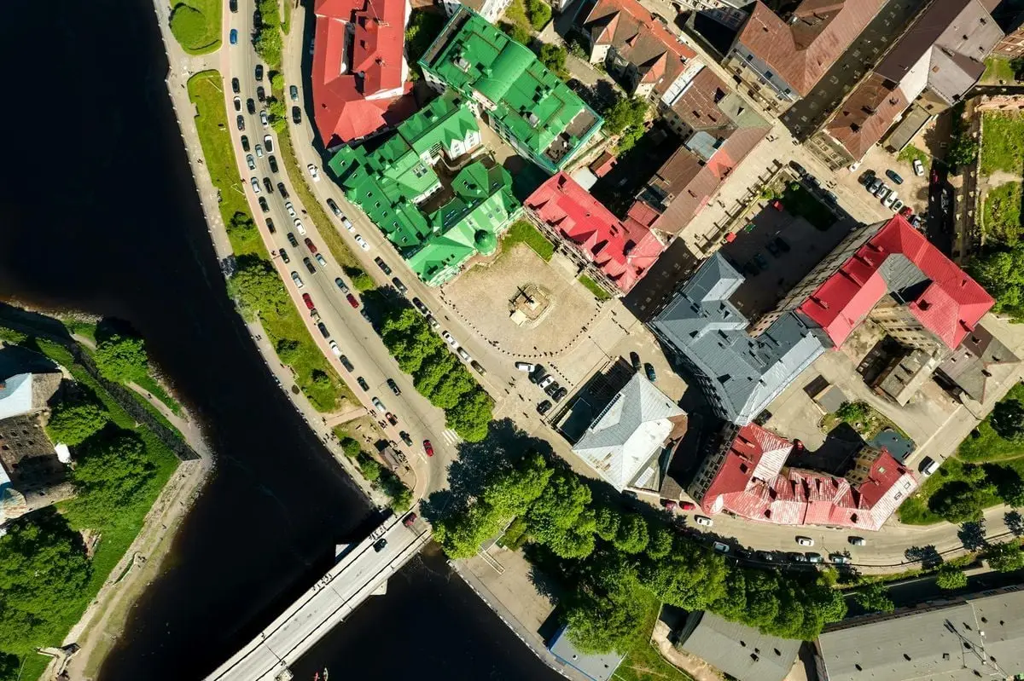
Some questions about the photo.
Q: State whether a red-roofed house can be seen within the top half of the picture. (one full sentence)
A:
Yes, the scene does show a red-roofed house within the top half of the picture.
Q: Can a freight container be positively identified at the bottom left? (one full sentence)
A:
No, no freight container is visible at the bottom left.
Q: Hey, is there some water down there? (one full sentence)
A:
Yes, water can be seen from above here.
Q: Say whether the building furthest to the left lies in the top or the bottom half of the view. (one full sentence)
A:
The building furthest to the left sits in the bottom half of the picture.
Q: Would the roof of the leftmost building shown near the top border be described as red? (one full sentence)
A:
Yes, the roof of the leftmost building shown near the top border is red.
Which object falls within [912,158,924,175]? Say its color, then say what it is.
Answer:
white vehicle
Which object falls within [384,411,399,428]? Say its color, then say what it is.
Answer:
red vehicle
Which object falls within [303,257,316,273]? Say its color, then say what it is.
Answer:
black vehicle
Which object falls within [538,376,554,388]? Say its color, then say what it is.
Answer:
white vehicle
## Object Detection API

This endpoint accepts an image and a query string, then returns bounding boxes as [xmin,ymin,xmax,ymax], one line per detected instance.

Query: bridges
[197,504,435,681]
